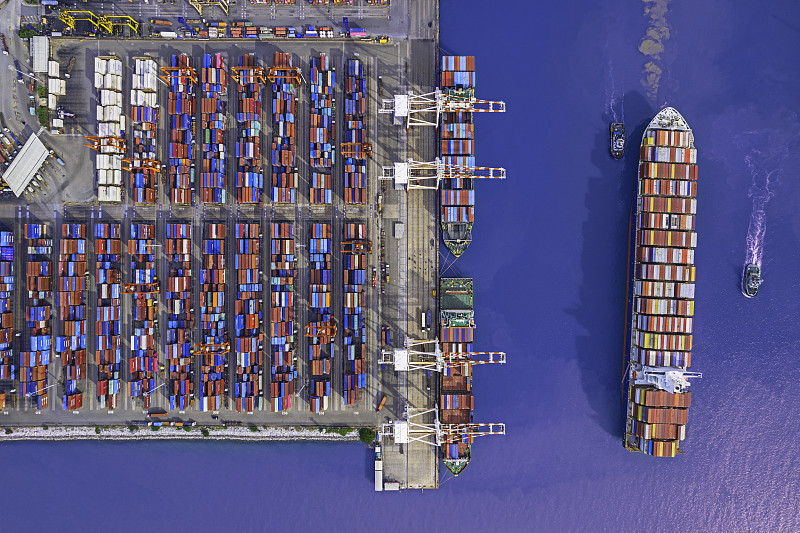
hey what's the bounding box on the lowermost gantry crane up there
[379,399,505,443]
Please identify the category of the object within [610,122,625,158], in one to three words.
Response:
boat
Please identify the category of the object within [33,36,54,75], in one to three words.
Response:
shed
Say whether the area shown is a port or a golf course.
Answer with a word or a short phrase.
port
